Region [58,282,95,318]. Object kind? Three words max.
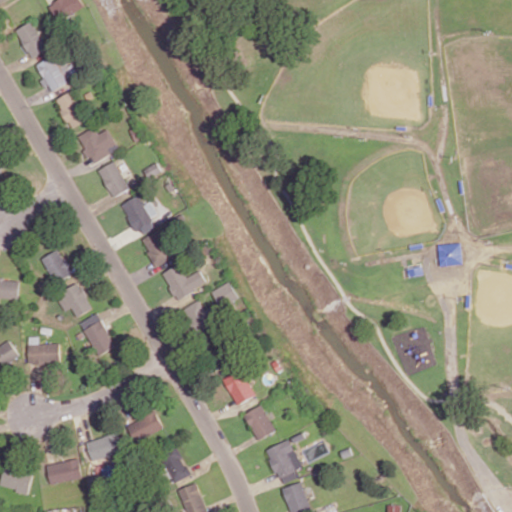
house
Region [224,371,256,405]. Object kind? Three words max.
house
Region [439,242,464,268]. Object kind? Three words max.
building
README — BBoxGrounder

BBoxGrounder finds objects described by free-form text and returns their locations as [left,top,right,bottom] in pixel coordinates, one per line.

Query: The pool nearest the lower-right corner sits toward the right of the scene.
[303,440,330,462]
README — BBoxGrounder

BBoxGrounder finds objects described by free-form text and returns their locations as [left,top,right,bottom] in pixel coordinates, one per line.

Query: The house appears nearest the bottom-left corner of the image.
[2,472,36,494]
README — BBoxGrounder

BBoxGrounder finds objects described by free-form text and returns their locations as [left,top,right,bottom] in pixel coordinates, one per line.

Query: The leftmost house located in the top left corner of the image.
[15,23,46,58]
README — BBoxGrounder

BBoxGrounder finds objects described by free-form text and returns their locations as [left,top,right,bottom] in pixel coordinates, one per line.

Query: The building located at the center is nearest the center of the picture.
[212,282,242,304]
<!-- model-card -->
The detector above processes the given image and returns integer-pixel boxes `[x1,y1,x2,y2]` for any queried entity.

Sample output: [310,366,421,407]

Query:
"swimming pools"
[262,372,278,387]
[303,440,330,462]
